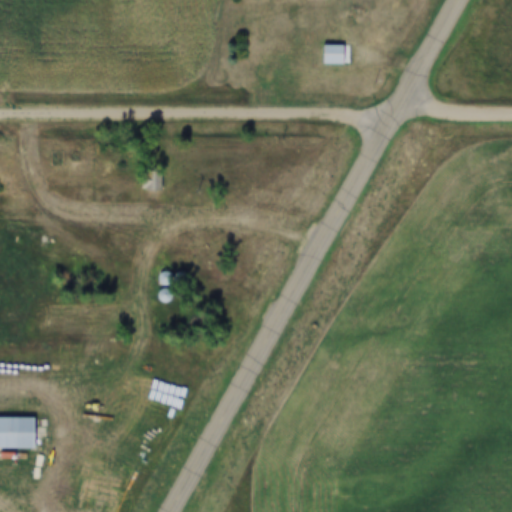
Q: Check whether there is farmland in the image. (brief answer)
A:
Yes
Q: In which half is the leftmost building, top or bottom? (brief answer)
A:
bottom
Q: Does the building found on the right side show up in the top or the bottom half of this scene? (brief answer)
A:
top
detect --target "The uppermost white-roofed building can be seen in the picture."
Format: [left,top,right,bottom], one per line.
[324,44,345,64]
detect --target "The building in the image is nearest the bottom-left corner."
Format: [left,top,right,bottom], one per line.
[0,417,36,450]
